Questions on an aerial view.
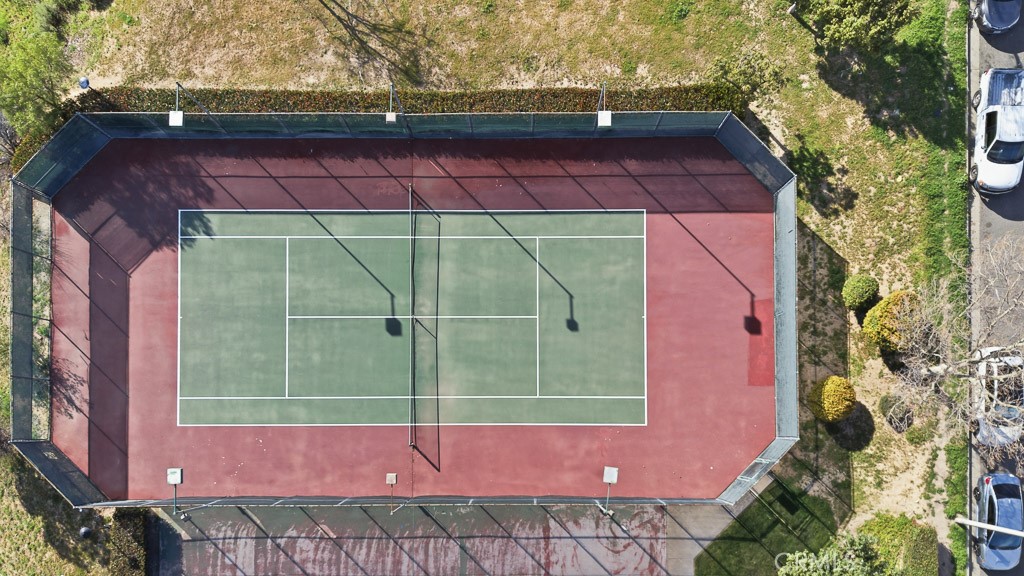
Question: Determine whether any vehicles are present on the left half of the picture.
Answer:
No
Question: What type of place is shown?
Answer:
sports ground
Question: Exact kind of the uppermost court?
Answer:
tennis court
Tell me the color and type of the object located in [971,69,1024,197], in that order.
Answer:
white truck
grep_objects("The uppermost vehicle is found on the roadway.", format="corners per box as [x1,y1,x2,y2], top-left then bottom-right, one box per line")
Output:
[975,0,1022,37]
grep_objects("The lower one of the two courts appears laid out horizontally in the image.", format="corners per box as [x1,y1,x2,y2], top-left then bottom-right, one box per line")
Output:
[158,506,667,576]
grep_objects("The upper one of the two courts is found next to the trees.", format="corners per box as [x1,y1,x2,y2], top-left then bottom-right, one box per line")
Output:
[52,137,775,499]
